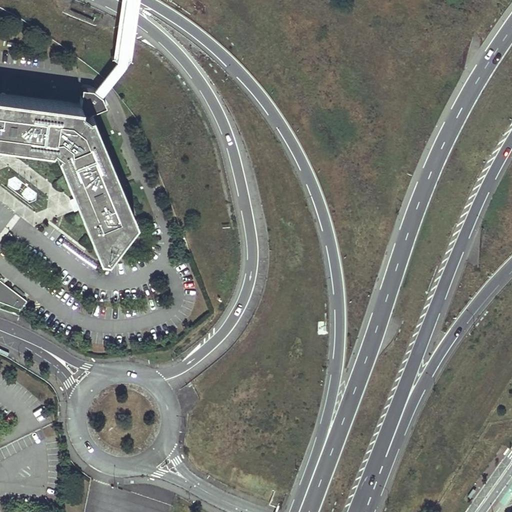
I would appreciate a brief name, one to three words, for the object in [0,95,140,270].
building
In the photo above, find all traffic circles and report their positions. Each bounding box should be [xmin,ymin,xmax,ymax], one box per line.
[66,363,182,478]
